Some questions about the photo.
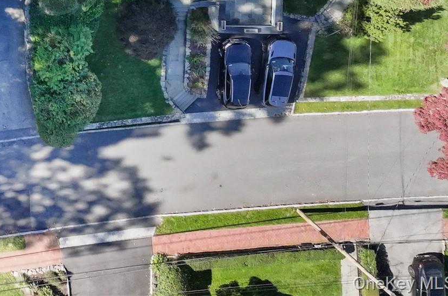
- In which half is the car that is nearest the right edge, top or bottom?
bottom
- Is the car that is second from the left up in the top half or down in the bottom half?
top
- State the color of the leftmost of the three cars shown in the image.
blue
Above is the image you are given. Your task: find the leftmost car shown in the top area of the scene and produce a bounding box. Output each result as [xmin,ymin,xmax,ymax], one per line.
[216,37,256,110]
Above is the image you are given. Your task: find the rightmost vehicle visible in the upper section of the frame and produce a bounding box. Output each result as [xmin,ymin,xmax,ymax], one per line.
[255,34,299,109]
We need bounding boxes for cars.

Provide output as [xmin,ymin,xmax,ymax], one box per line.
[216,37,256,110]
[255,34,299,109]
[403,252,447,296]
